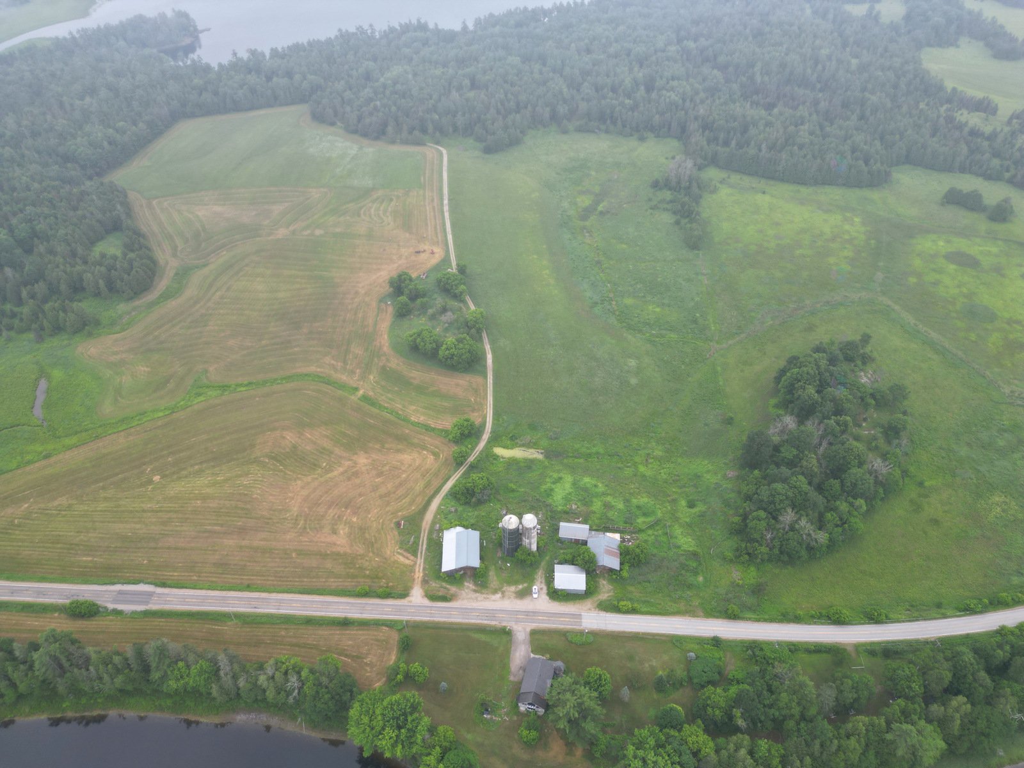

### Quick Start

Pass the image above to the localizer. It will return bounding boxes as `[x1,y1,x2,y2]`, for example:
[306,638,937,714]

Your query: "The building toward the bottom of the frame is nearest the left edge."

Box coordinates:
[442,526,479,575]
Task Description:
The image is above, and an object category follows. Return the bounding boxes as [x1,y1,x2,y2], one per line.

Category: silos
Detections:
[522,515,540,551]
[500,515,522,555]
